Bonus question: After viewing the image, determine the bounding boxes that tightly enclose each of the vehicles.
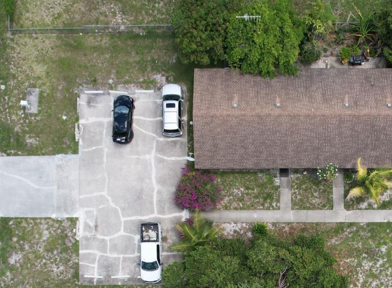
[109,95,134,141]
[159,83,184,136]
[136,222,162,284]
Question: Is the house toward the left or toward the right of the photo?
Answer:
right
